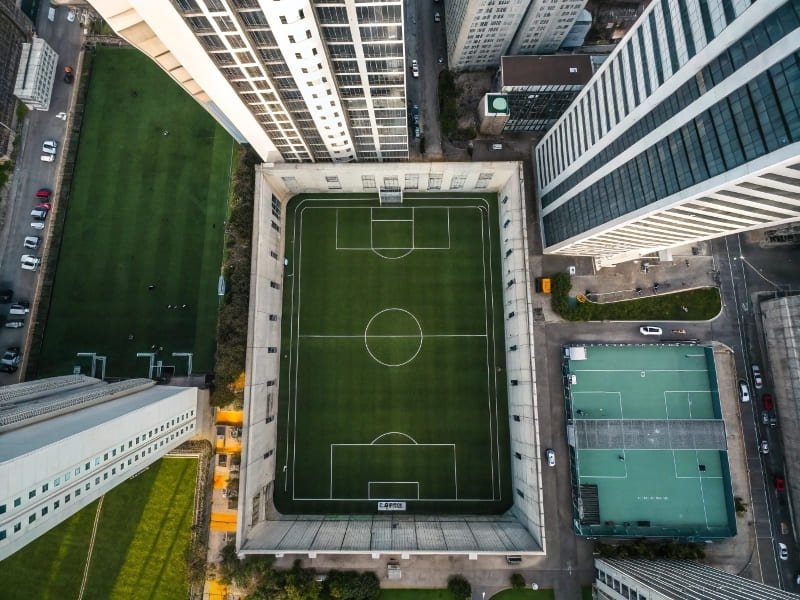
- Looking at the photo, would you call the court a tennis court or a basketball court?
tennis court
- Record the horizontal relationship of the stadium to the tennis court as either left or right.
to the left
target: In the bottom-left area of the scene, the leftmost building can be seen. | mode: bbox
[0,373,198,554]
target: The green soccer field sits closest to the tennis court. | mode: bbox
[276,192,512,509]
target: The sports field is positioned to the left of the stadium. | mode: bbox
[29,46,236,380]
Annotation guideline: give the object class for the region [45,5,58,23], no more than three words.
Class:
vehicle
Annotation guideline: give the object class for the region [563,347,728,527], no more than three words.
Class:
tennis court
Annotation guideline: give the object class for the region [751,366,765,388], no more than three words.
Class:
car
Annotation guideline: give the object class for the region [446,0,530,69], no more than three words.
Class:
building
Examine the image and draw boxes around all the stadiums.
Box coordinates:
[236,160,547,561]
